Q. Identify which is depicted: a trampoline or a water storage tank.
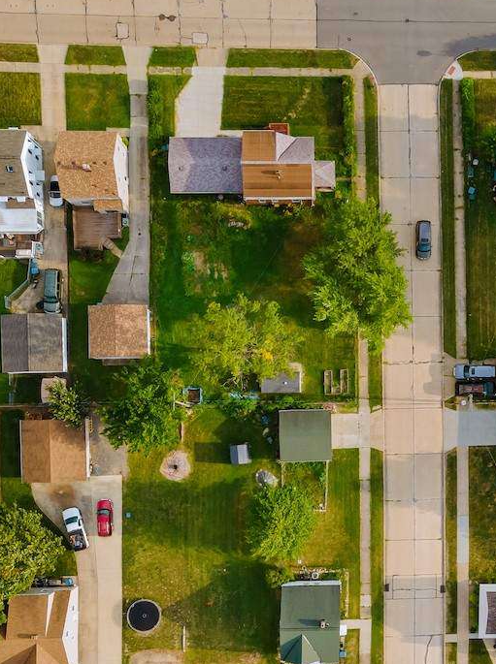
trampoline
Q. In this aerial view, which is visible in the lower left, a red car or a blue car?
red car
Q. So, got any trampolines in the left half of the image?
Yes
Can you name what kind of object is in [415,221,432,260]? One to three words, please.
car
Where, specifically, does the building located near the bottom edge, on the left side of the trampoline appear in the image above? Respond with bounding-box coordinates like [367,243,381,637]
[0,590,74,664]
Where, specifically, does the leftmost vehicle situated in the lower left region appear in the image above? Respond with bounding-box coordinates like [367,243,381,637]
[60,506,89,551]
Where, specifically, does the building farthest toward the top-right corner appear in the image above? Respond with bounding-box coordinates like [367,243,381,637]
[170,123,336,201]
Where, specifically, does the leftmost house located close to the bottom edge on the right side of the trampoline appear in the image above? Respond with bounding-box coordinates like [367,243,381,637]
[278,581,347,664]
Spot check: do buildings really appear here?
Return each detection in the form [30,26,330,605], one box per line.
[88,304,149,359]
[0,130,50,234]
[261,365,300,393]
[20,420,90,483]
[0,313,67,374]
[278,581,347,664]
[477,581,496,638]
[0,590,74,664]
[279,409,332,462]
[170,123,336,201]
[56,131,127,215]
[229,443,251,464]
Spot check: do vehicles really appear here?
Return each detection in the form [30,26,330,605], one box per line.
[94,499,113,538]
[453,363,495,381]
[60,506,89,551]
[41,272,61,310]
[456,380,496,398]
[47,175,65,210]
[415,221,432,260]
